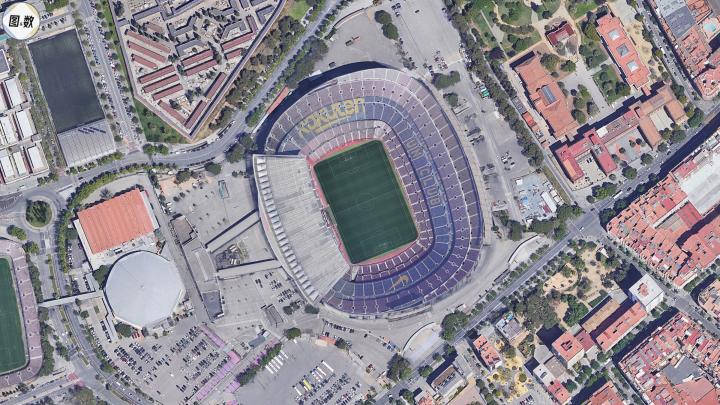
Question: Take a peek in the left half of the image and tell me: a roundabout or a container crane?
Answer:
roundabout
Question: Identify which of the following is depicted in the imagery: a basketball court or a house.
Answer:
house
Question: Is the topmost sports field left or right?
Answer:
left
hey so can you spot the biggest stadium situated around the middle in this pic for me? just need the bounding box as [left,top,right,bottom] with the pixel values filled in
[252,68,486,326]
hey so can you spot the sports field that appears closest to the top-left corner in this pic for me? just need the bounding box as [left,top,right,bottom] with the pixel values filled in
[24,25,108,137]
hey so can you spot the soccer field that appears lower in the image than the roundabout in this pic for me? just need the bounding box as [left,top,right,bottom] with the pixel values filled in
[0,259,23,371]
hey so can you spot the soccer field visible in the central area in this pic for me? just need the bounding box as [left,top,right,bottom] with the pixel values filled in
[309,140,419,267]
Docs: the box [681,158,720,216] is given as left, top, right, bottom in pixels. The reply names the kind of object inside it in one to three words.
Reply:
building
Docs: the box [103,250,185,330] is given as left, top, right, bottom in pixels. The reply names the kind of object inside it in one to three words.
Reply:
stadium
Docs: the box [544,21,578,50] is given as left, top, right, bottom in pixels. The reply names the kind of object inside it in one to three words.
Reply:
house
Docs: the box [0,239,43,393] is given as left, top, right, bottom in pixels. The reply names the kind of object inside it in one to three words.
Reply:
stadium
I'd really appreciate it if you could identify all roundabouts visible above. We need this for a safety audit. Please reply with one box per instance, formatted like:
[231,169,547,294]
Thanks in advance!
[15,189,65,237]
